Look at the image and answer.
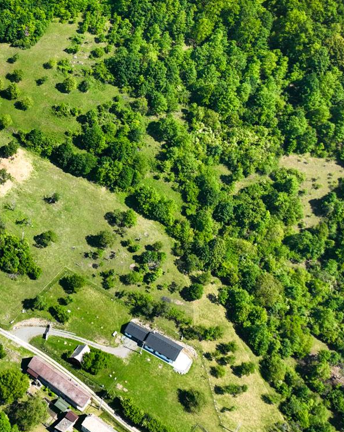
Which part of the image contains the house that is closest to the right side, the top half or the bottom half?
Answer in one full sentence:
Seen from above, the house that is closest to the right side lies in the bottom half of the view.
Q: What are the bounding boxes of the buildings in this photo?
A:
[82,414,113,432]
[54,410,74,432]
[144,331,183,363]
[73,343,90,364]
[125,322,150,343]
[28,357,92,410]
